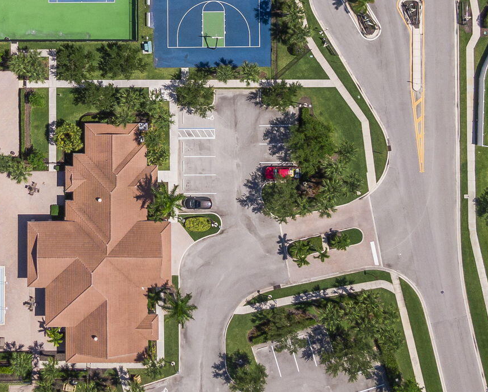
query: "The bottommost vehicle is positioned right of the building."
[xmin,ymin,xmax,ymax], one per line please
[183,197,213,210]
